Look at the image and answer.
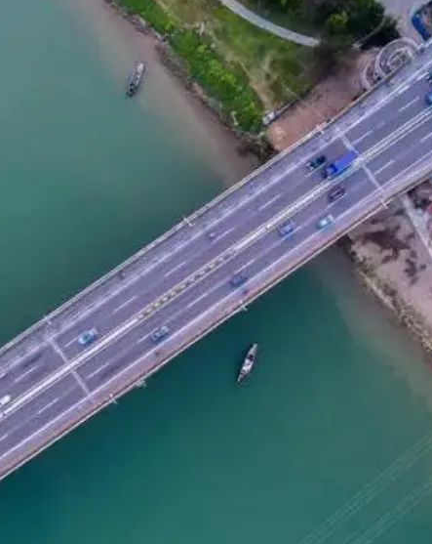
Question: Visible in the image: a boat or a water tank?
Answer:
boat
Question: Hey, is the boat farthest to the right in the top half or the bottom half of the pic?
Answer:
bottom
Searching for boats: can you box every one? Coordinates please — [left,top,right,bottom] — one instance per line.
[236,341,258,384]
[129,61,146,98]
